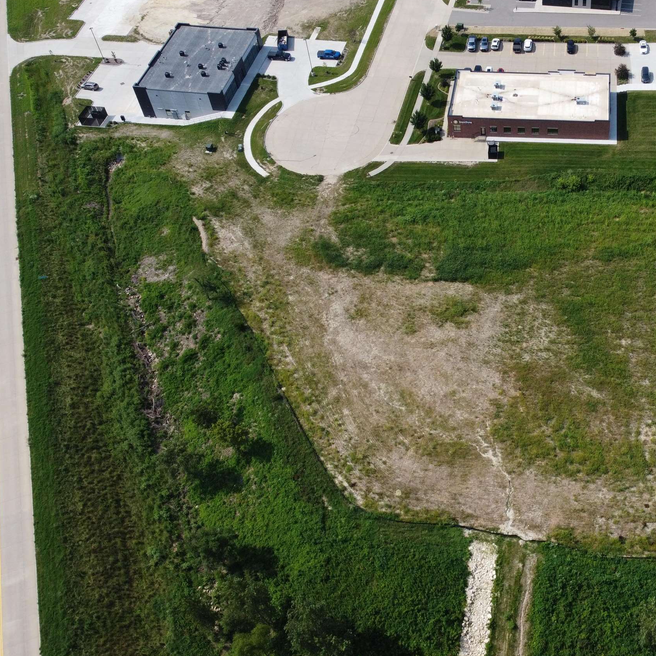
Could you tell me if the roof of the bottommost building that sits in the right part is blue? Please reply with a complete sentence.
No, the roof of the bottommost building that sits in the right part is actually white.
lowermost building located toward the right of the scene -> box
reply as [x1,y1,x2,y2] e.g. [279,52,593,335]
[447,68,610,141]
